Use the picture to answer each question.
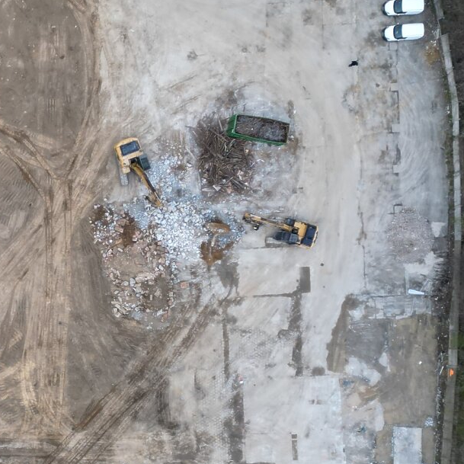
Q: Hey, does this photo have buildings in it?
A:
No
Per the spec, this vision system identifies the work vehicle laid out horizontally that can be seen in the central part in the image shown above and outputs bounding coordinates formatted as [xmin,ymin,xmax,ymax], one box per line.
[228,211,328,250]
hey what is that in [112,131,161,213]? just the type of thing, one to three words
work vehicle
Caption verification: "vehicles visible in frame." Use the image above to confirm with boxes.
[228,211,328,250]
[112,131,161,213]
[381,21,429,42]
[381,0,429,18]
